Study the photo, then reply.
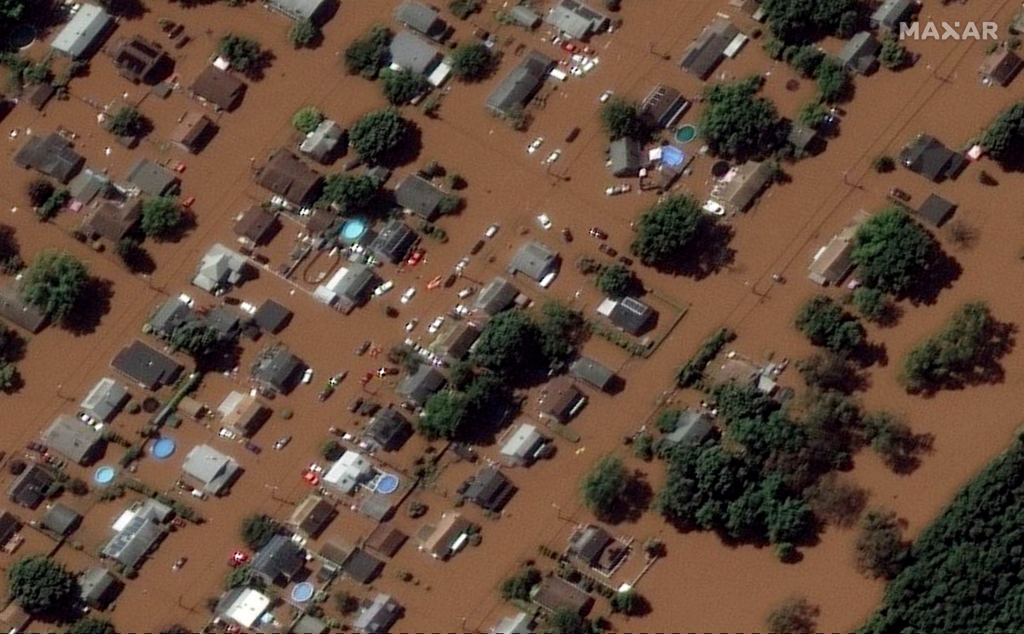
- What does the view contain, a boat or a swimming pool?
swimming pool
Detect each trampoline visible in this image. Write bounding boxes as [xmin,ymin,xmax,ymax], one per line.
[786,78,800,90]
[142,397,158,411]
[712,161,730,177]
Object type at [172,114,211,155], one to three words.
house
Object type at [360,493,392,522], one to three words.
shed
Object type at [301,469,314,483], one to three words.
vehicle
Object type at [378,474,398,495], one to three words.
swimming pool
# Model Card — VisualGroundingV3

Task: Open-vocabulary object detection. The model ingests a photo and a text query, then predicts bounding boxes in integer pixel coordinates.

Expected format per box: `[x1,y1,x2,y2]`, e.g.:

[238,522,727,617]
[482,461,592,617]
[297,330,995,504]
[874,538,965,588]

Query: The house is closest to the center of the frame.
[475,278,516,314]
